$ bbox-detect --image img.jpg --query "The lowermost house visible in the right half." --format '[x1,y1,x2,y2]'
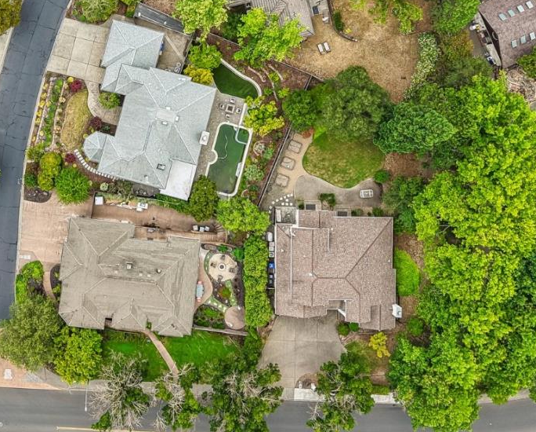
[270,204,397,334]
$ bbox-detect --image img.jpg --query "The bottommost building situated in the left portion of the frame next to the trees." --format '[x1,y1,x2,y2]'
[57,217,204,339]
